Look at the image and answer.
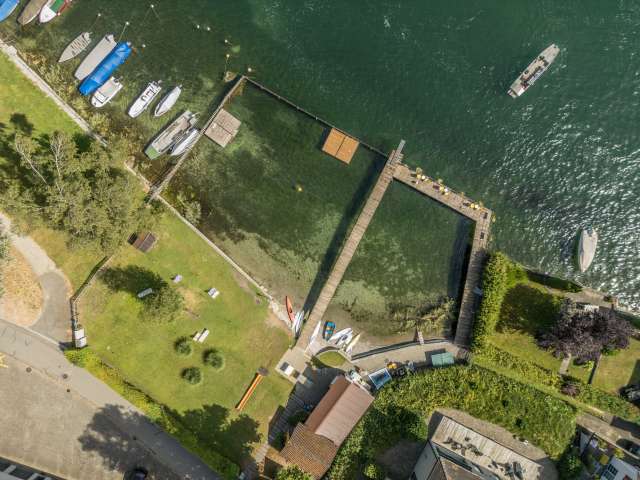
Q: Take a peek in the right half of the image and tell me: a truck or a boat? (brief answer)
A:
boat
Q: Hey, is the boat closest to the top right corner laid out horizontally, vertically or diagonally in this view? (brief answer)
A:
diagonally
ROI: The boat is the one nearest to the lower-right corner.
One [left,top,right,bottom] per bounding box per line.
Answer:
[578,227,598,272]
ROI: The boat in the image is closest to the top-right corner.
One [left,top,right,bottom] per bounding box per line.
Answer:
[505,42,559,100]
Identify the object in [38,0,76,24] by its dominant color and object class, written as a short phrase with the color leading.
white boat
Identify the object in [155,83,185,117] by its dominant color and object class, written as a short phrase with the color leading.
white boat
